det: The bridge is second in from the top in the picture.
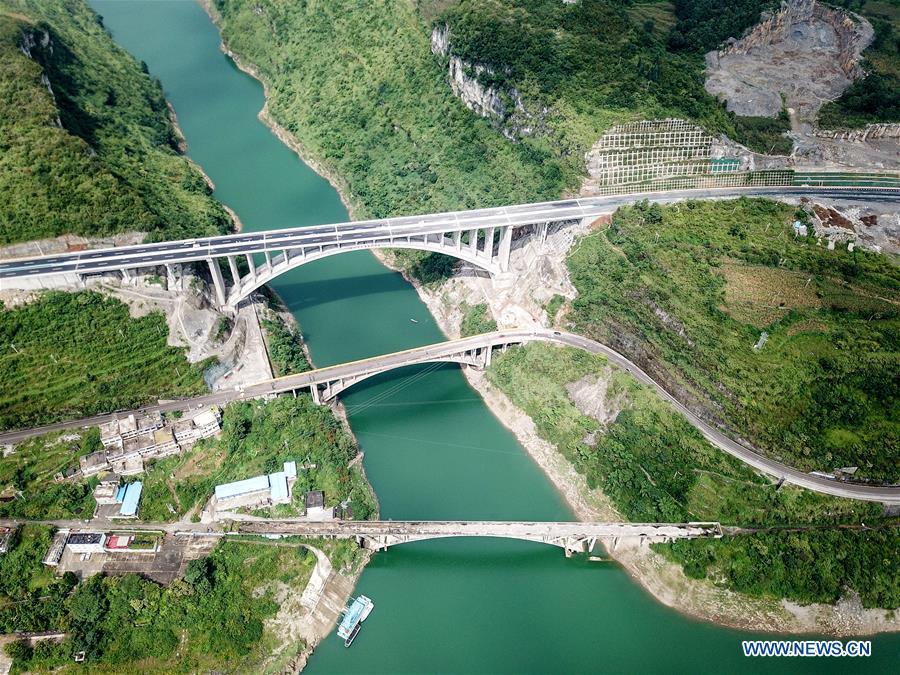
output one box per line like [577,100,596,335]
[242,327,550,403]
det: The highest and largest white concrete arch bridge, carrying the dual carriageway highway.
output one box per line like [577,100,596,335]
[87,198,590,310]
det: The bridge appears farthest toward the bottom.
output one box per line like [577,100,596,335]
[238,521,722,556]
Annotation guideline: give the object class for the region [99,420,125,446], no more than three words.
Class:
house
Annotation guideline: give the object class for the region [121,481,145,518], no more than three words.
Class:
shed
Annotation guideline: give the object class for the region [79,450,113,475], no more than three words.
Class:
house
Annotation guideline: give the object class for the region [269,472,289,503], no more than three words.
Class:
shed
